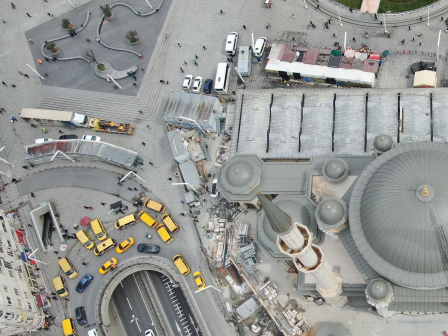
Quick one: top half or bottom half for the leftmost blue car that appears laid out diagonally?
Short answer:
bottom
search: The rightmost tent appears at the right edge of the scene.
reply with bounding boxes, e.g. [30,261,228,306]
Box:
[414,73,437,88]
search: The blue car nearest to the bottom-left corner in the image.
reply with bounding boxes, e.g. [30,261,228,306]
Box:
[73,271,93,293]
